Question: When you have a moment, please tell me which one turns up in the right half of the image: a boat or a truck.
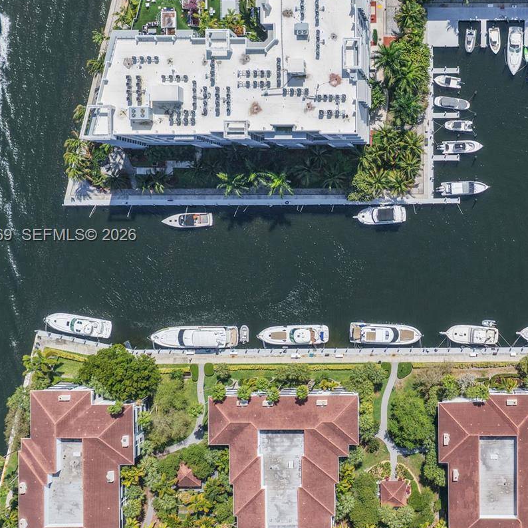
boat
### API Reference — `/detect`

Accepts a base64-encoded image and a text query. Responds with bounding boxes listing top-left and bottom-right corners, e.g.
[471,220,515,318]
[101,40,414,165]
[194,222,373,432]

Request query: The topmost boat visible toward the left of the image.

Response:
[163,213,215,228]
